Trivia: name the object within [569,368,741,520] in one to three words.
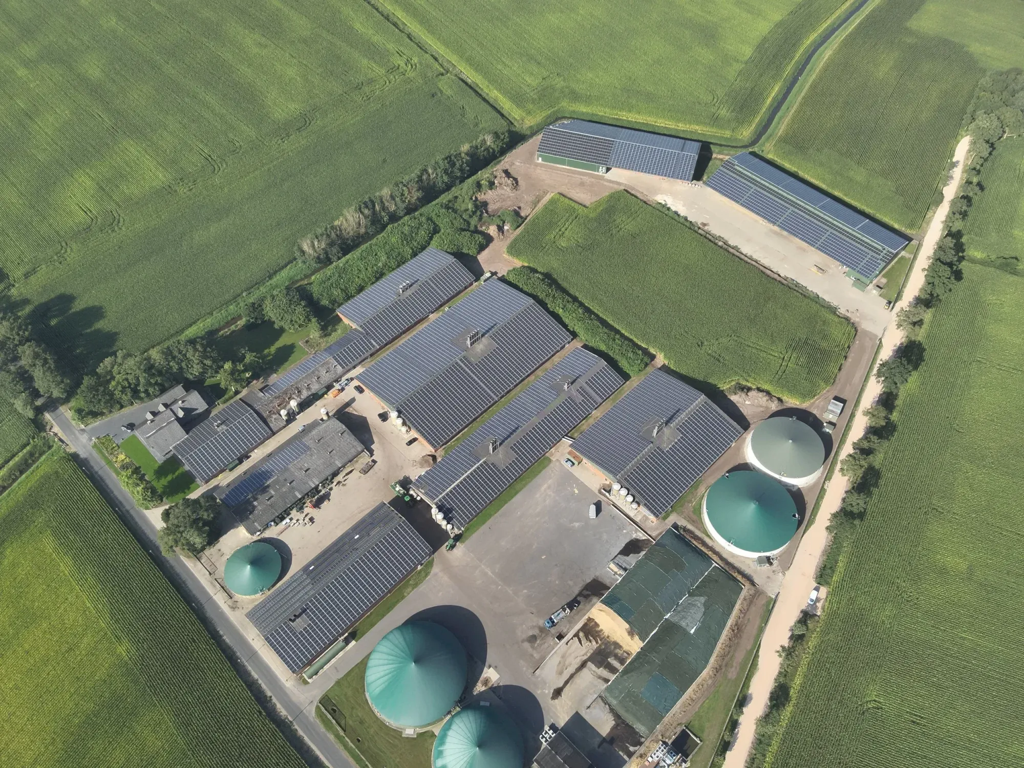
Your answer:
barn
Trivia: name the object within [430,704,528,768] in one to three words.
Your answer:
storage tank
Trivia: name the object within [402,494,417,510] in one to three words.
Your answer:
work vehicle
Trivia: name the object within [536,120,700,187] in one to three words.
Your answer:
shed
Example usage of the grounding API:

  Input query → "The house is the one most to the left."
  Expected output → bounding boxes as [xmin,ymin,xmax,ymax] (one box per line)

[136,385,210,456]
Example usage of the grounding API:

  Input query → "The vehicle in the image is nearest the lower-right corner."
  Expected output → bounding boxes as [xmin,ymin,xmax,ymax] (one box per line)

[807,588,819,604]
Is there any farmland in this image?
Yes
